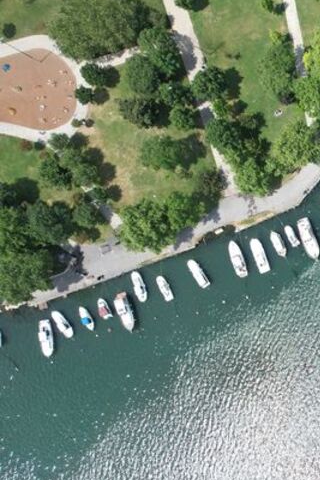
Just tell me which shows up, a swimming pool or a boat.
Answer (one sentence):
The image shows a boat.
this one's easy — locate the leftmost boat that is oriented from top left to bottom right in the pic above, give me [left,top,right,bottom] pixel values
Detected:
[52,307,75,339]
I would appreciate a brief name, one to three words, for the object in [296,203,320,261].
boat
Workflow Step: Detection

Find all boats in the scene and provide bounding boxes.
[114,280,136,334]
[38,316,54,358]
[229,235,251,281]
[130,271,149,304]
[98,295,114,321]
[246,229,271,275]
[78,308,95,331]
[188,250,211,290]
[296,203,320,261]
[270,231,286,257]
[285,226,301,248]
[154,270,175,302]
[52,307,75,339]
